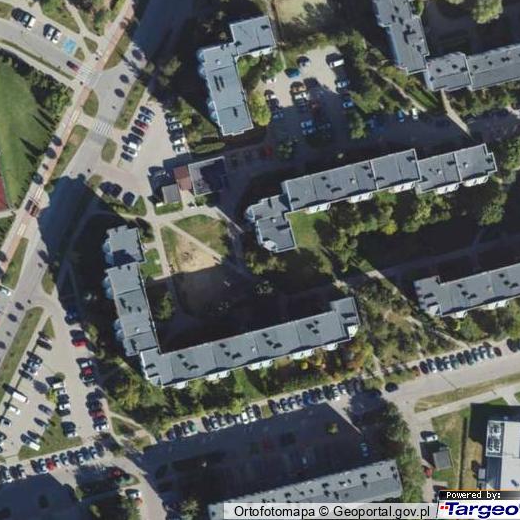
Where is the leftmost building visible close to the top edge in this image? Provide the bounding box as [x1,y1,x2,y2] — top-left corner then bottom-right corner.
[199,17,276,139]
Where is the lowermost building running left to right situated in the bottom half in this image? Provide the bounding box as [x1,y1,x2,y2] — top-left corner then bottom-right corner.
[207,460,403,520]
